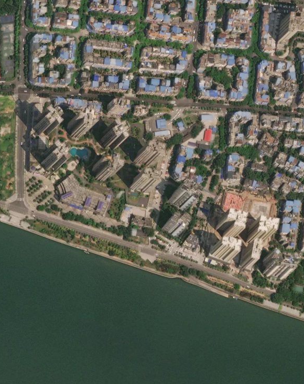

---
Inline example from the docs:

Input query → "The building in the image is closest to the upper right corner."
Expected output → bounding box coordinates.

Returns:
[278,8,304,37]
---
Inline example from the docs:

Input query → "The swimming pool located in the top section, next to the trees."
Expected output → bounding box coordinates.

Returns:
[69,147,89,159]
